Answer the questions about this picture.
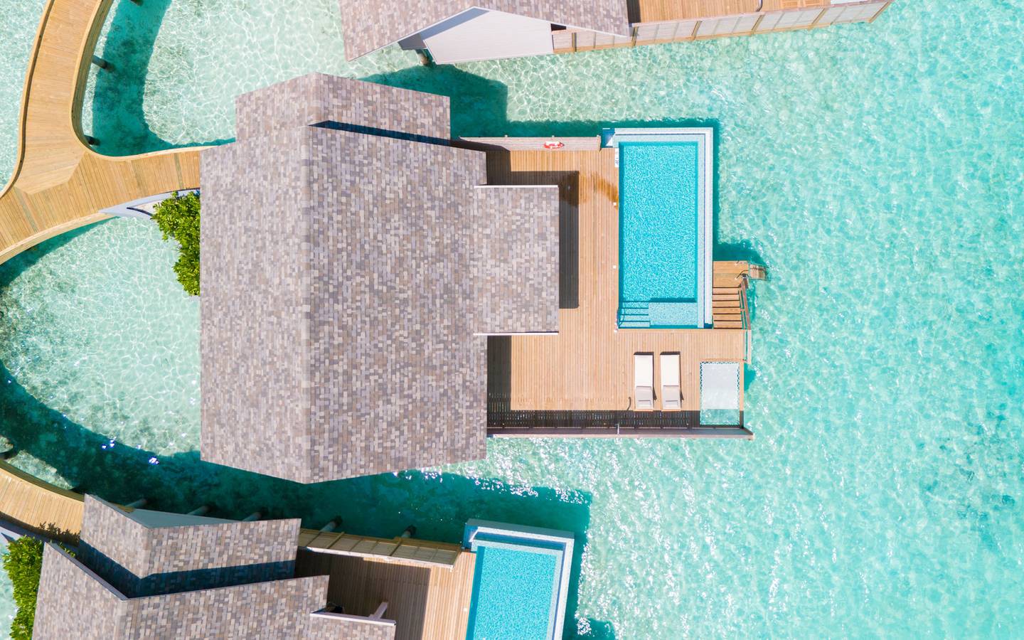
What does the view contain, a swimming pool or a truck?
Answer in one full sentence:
I can see a swimming pool in this picture.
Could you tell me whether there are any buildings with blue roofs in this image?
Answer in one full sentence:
No, no building with a blue roof can be seen from above.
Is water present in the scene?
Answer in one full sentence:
Yes, some water is visible.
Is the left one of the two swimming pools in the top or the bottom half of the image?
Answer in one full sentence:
The left one of the two swimming pools sits in the bottom half of the picture.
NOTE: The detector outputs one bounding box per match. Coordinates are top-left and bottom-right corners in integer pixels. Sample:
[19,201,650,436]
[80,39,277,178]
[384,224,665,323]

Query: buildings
[32,493,396,640]
[339,0,626,65]
[201,72,559,484]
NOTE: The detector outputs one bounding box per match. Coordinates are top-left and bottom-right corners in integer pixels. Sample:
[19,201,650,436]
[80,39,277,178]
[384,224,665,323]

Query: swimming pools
[598,127,713,333]
[459,517,575,640]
